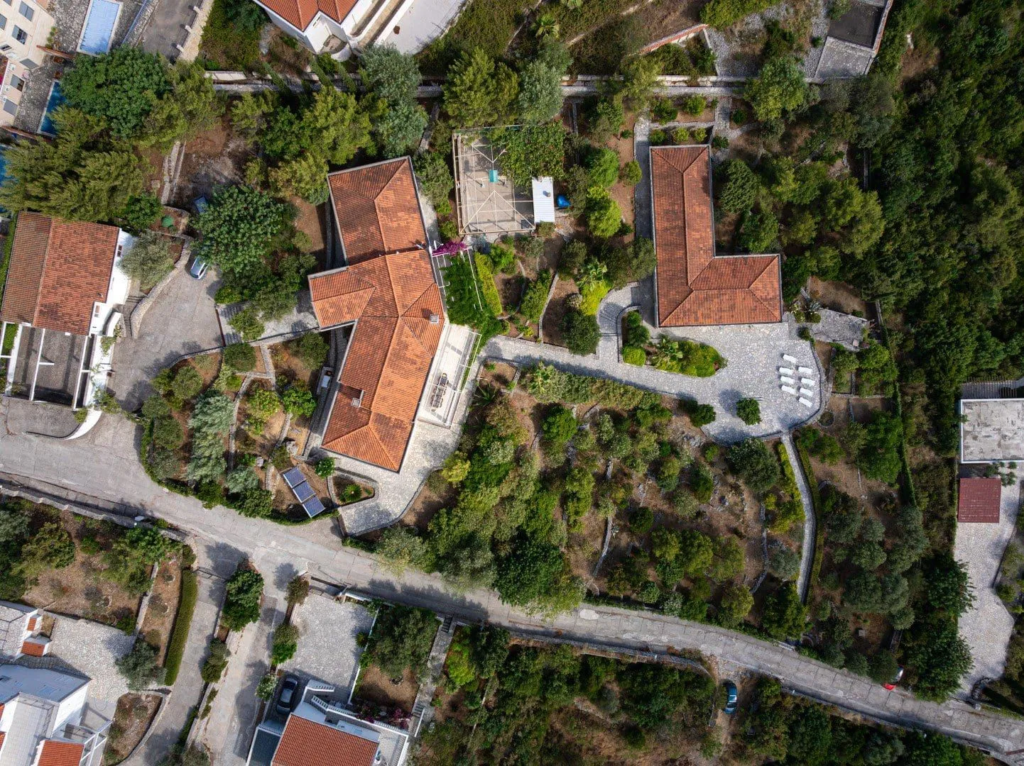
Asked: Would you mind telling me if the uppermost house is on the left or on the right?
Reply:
left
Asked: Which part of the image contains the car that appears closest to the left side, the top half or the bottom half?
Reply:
top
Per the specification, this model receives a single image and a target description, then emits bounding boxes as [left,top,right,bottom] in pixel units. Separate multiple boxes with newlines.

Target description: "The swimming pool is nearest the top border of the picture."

[76,0,120,54]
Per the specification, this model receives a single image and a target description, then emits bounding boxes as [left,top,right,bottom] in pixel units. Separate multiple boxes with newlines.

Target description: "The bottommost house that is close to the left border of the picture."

[0,648,112,766]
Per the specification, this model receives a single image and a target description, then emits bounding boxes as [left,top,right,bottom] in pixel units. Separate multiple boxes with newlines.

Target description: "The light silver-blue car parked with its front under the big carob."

[188,251,213,284]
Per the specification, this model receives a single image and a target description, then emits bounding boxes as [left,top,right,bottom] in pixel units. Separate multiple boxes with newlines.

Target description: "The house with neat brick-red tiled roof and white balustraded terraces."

[271,710,379,766]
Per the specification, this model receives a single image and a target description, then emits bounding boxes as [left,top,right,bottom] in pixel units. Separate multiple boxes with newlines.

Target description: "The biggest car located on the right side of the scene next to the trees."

[720,679,739,714]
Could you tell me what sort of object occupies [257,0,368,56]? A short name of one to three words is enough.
house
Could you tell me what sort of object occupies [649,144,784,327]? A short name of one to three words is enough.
house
